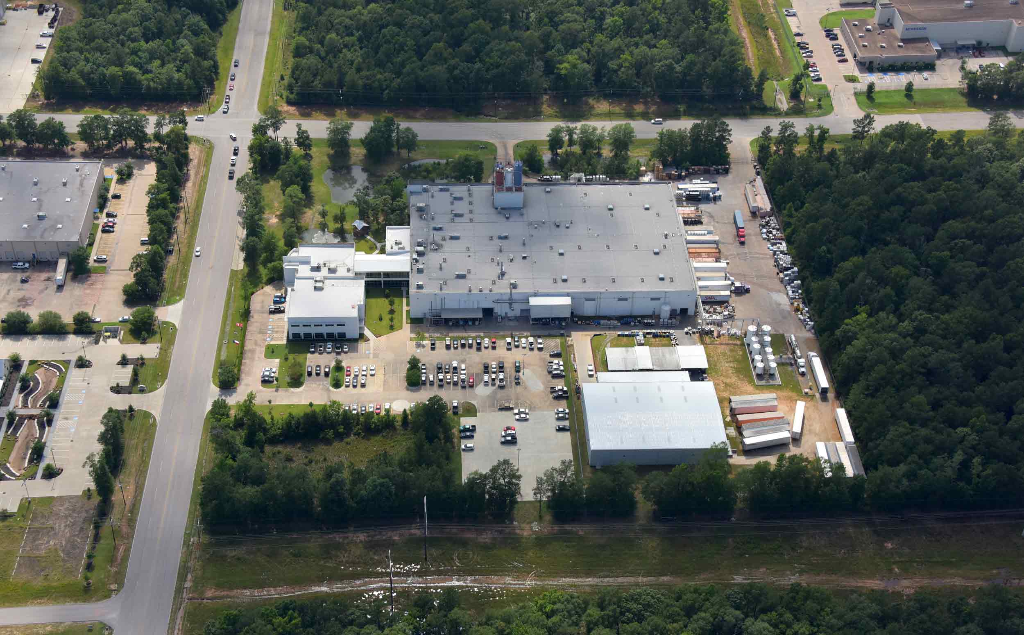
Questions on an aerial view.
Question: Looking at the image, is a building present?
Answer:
Yes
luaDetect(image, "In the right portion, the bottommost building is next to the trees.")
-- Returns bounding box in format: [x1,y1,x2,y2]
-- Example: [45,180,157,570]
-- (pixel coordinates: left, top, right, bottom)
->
[581,381,729,467]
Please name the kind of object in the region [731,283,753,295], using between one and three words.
vehicle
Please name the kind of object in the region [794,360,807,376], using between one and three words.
vehicle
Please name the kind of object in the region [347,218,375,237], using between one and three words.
gazebo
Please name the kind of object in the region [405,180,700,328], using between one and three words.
building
